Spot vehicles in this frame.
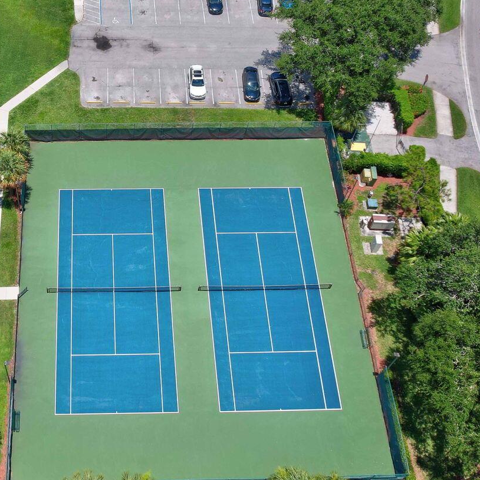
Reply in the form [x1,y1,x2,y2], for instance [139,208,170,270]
[258,0,277,17]
[271,72,295,106]
[242,66,265,101]
[282,0,298,9]
[208,0,225,13]
[189,65,210,100]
